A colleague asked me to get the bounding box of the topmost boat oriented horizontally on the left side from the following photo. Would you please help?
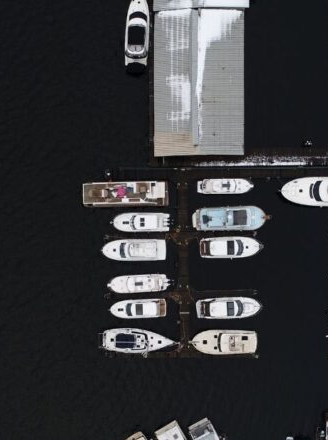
[83,181,168,207]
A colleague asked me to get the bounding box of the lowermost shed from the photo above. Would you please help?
[152,9,245,158]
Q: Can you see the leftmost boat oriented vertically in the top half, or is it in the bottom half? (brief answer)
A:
top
